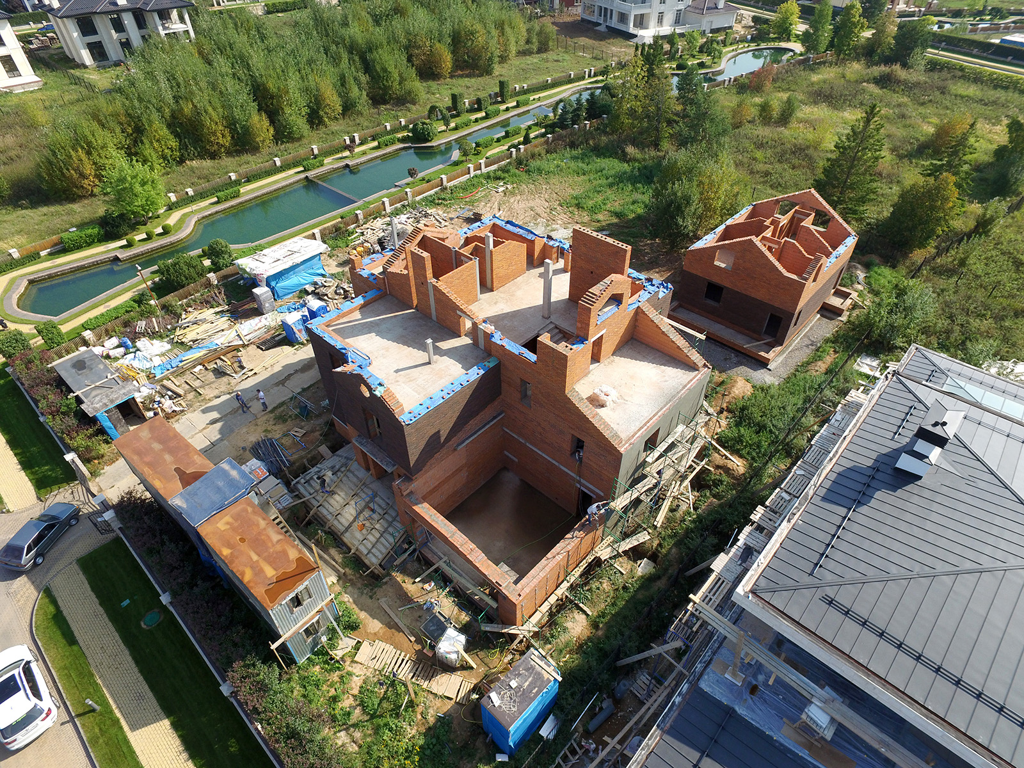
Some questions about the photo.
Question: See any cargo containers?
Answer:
Yes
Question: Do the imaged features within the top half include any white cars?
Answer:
No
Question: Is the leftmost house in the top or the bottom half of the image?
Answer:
top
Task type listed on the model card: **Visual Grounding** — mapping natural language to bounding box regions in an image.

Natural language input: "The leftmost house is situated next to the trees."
[0,16,46,91]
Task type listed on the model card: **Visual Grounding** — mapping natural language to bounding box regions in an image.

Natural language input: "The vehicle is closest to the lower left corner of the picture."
[0,639,61,750]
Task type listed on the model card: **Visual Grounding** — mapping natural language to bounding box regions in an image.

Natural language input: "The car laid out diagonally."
[0,504,82,576]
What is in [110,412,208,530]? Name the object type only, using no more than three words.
shipping container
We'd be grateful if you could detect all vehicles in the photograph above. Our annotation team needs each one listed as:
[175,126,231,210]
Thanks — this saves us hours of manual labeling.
[0,639,61,750]
[0,504,82,576]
